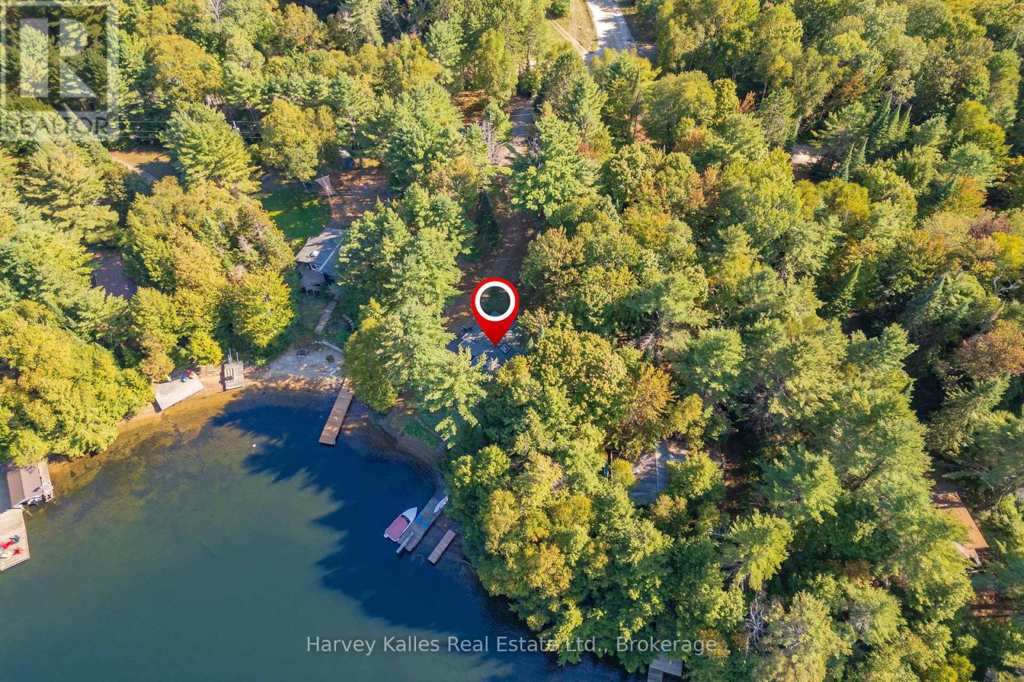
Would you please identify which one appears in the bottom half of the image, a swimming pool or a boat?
boat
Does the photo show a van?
No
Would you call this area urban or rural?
rural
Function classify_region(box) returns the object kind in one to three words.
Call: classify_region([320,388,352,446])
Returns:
pier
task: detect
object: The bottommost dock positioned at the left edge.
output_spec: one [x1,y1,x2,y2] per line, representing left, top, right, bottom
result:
[0,509,31,573]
